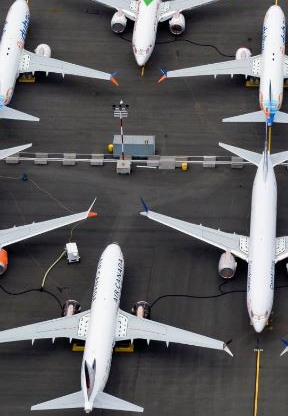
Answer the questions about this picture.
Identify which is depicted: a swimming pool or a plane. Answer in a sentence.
The one in the frame is a plane.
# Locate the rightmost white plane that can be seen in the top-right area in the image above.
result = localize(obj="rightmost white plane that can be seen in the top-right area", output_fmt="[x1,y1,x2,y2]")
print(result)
[157,6,288,129]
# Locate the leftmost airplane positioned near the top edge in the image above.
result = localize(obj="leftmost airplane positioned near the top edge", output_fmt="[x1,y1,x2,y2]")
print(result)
[0,2,119,122]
